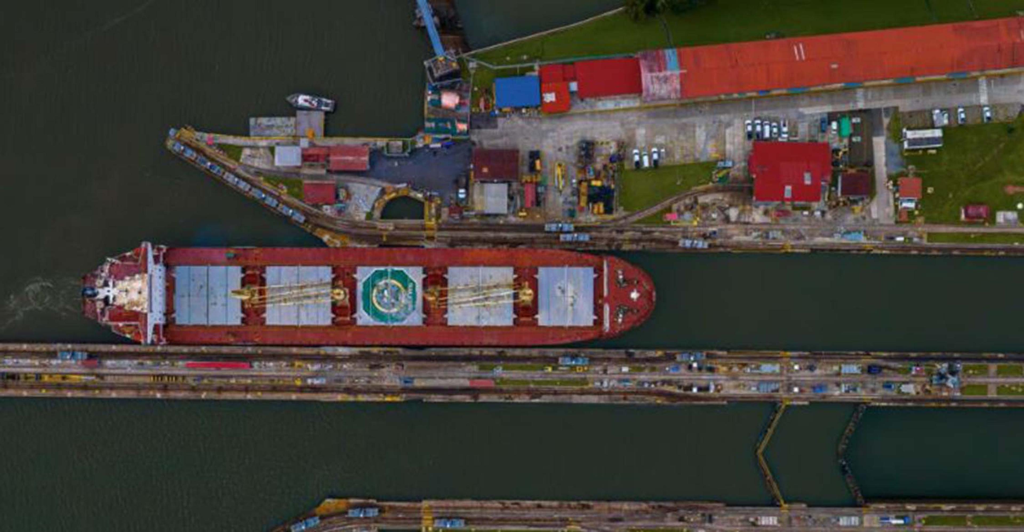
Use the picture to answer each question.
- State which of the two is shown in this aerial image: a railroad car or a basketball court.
railroad car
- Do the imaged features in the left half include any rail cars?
Yes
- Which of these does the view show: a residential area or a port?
port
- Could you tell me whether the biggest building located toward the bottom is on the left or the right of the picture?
right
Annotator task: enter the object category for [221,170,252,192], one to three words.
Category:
rail car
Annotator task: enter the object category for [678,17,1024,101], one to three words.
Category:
building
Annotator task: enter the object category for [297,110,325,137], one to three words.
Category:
pier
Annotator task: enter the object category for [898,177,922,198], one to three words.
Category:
shed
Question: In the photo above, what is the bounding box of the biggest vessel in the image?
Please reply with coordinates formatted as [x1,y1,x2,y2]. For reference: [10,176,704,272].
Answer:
[82,242,655,346]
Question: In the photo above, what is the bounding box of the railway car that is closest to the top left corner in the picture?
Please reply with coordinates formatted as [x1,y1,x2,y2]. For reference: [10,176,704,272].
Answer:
[168,137,199,158]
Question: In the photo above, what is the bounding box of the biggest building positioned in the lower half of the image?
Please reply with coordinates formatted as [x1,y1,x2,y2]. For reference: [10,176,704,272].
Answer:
[937,362,967,391]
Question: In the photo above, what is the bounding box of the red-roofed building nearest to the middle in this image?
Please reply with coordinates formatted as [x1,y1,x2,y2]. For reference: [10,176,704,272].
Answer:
[475,149,518,181]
